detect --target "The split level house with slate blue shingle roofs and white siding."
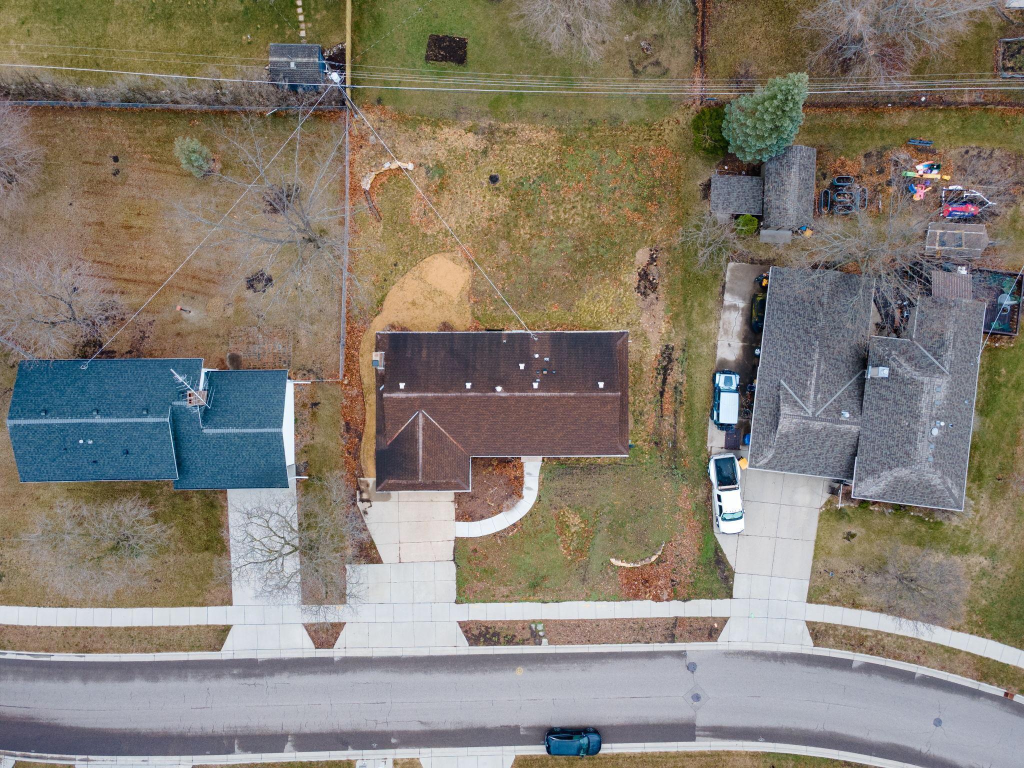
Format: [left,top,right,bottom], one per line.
[5,357,308,491]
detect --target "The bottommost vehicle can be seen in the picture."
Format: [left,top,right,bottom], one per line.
[544,728,601,761]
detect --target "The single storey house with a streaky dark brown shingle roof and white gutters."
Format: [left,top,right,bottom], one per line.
[372,326,634,493]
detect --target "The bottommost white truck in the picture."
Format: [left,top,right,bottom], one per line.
[706,451,748,534]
